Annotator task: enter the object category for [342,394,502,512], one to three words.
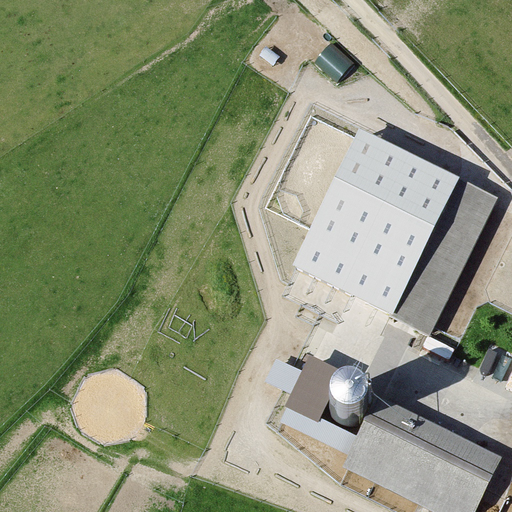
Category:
barn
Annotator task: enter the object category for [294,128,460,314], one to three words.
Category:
barn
